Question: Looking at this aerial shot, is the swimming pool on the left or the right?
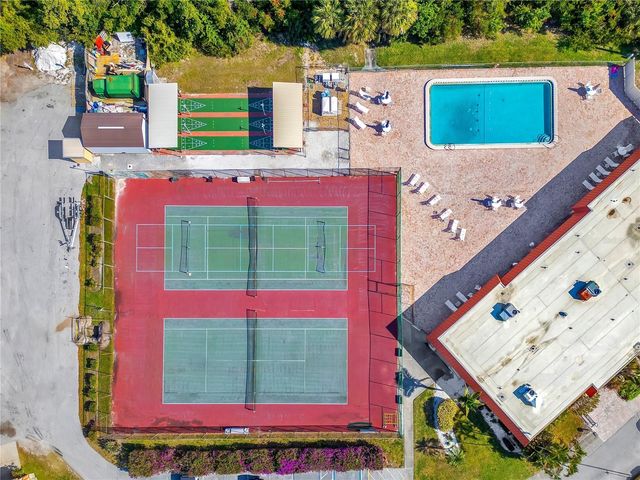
right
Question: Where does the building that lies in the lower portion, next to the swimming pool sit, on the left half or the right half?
right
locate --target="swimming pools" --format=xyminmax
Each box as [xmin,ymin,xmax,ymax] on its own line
[425,78,557,148]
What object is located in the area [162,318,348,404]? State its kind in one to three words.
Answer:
tennis court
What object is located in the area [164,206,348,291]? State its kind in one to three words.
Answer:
tennis court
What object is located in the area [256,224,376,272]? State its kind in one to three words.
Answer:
sports court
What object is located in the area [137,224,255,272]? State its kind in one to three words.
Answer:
sports court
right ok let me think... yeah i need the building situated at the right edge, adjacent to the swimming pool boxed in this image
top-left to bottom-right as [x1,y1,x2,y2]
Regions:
[427,148,640,445]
